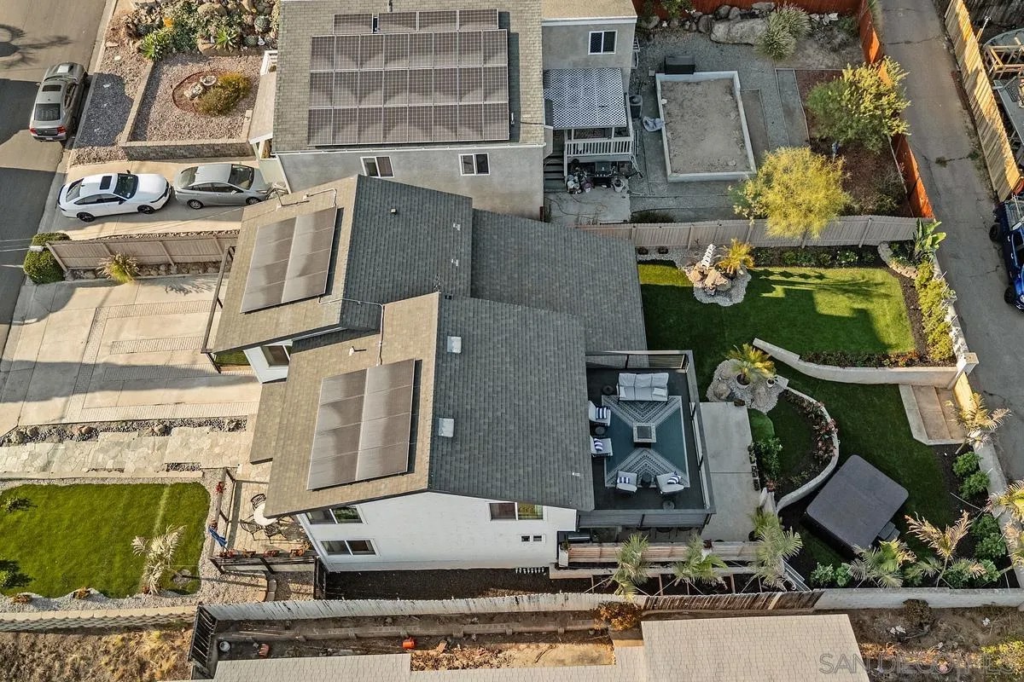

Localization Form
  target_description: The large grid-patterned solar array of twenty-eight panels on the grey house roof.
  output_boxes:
[306,12,508,143]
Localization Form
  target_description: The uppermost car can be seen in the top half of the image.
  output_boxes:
[29,72,90,152]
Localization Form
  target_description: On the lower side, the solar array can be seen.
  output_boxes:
[309,359,416,489]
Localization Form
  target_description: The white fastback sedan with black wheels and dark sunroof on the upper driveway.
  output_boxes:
[58,169,171,223]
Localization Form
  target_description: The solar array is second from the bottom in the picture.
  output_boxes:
[249,206,339,311]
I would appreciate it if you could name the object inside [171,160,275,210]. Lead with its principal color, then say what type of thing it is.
gray car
